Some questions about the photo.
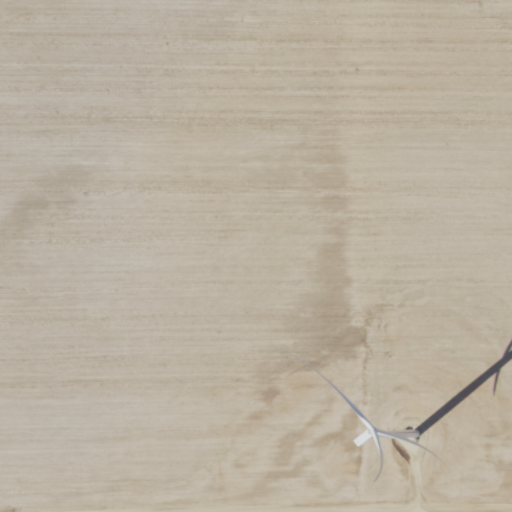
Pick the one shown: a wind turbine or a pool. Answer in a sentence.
The one in the frame is a wind turbine.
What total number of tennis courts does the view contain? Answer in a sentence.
The count of tennis courts is 0.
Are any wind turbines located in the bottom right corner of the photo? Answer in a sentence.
Yes, looking in the bottom right corner of the photo, one can make out a wind turbine.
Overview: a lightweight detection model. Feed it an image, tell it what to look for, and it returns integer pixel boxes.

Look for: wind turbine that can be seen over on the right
[318,371,440,480]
